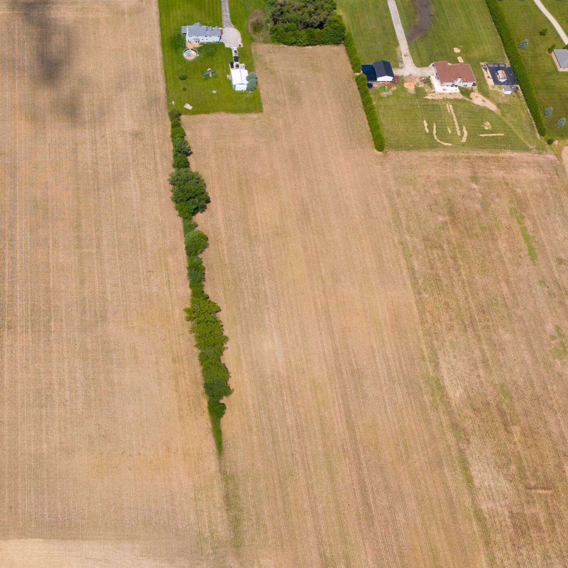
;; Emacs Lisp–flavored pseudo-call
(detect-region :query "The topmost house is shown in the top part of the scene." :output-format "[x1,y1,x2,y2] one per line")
[182,19,222,47]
